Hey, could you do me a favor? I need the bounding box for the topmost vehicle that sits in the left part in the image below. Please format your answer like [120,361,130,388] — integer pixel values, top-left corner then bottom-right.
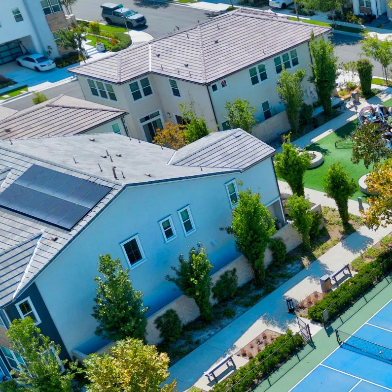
[100,5,146,28]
